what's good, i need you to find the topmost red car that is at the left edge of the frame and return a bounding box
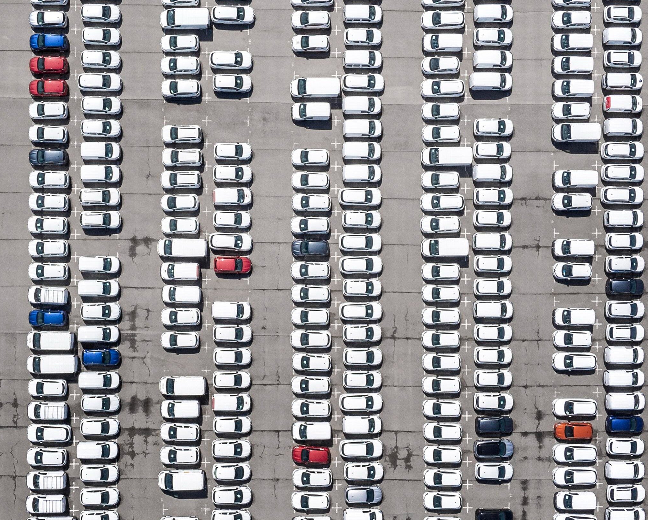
[30,55,67,74]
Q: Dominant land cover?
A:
paved ground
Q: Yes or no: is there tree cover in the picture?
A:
No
